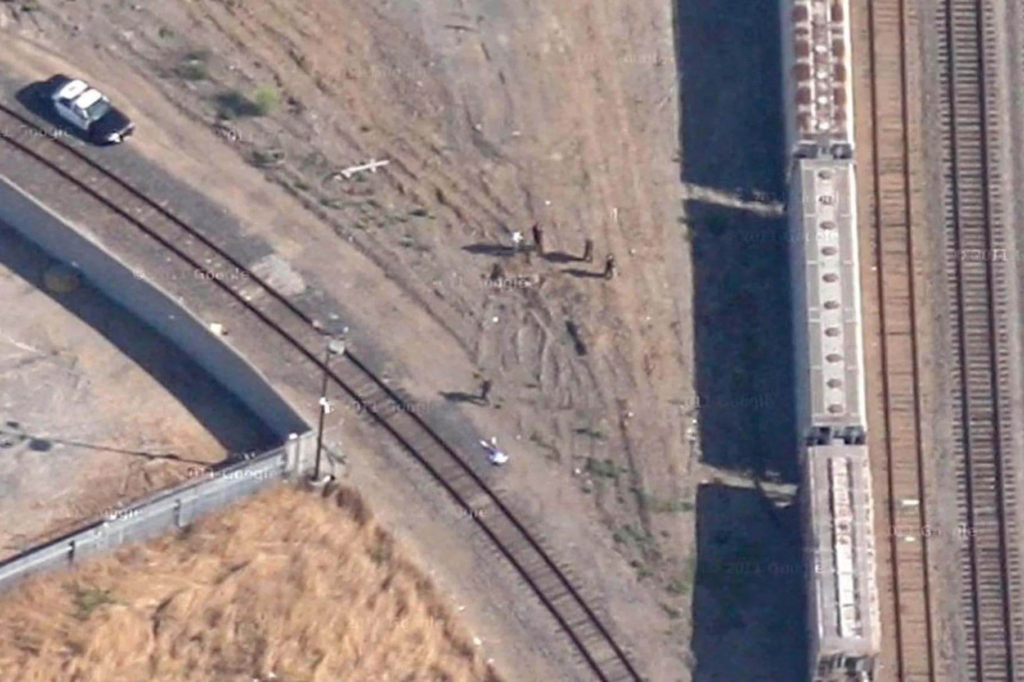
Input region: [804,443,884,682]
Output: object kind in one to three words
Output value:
rail car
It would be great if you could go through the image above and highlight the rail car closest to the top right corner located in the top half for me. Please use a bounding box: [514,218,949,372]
[783,0,854,192]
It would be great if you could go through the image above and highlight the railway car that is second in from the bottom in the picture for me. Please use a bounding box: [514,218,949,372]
[790,157,869,480]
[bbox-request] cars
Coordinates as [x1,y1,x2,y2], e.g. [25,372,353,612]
[33,69,133,144]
